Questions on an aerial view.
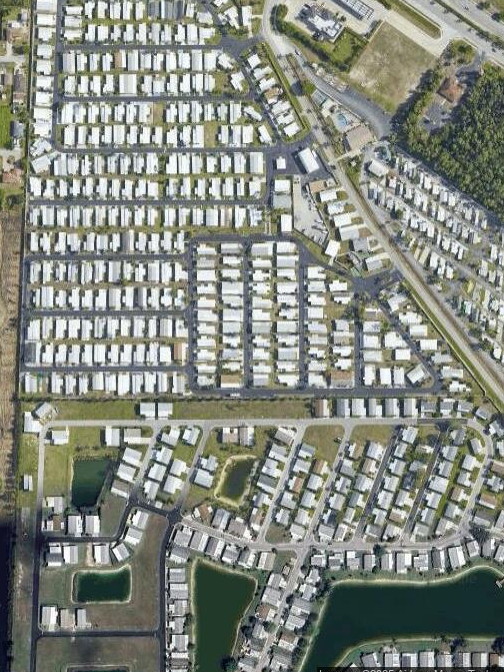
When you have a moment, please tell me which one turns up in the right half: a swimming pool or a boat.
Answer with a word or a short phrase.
swimming pool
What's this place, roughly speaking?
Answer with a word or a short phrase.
residential area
